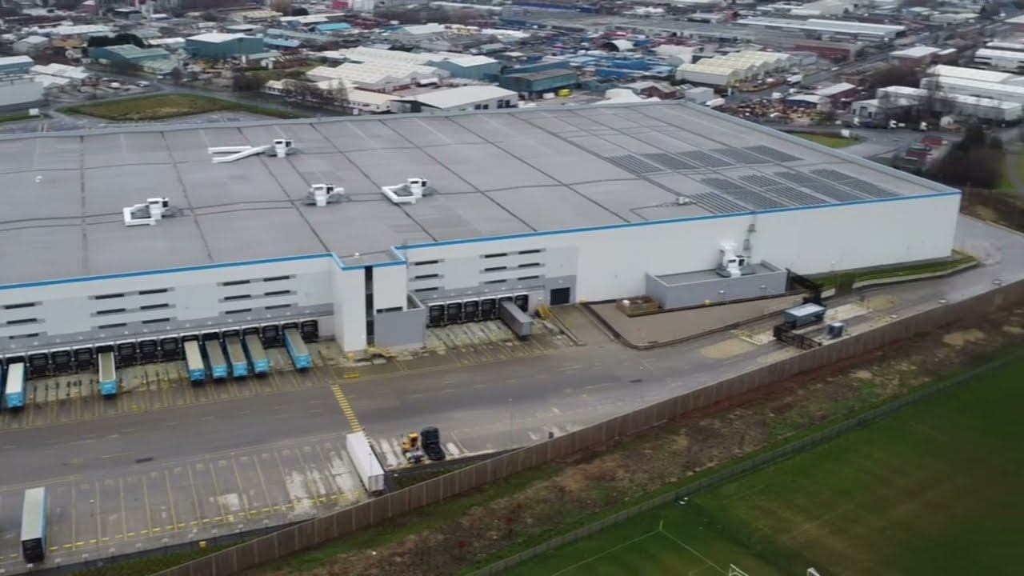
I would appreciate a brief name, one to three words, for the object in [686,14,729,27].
shed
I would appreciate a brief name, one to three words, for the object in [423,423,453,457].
truck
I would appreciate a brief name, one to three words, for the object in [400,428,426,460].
work vehicle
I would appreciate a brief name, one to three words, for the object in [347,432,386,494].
trailer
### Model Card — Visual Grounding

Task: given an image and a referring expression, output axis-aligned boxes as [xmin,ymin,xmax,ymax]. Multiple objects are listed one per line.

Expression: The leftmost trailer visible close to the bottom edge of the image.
[21,486,48,561]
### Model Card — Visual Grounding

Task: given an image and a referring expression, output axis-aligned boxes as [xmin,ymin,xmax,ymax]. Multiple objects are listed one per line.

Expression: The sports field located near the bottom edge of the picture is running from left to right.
[485,360,1024,576]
